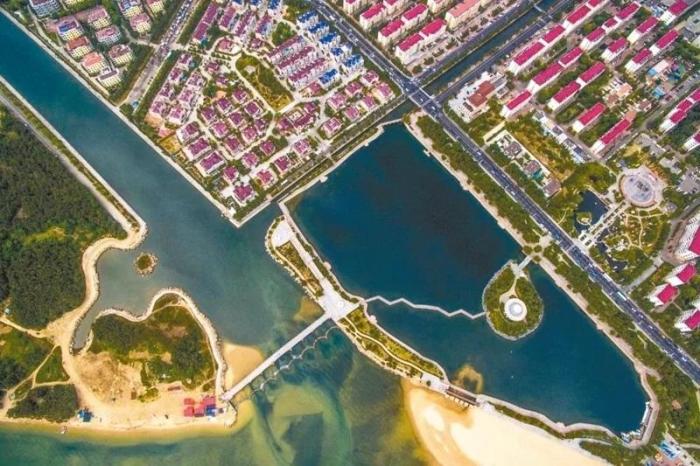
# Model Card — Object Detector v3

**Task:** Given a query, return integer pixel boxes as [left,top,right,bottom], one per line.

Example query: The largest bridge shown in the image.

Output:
[225,312,332,398]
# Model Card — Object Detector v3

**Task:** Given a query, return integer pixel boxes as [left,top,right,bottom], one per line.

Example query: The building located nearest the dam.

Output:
[502,298,526,321]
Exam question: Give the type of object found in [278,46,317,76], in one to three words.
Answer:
house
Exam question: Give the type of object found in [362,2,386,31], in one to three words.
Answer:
building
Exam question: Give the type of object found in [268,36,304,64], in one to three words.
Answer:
house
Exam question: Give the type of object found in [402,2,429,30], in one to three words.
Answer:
building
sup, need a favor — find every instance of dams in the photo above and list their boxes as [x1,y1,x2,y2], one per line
[443,383,483,411]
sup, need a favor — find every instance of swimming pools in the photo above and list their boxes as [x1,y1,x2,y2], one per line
[664,435,690,462]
